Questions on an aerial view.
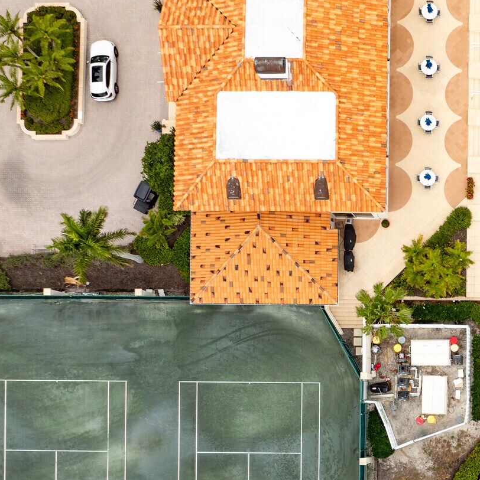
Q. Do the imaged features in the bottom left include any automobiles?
No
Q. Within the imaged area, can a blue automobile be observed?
No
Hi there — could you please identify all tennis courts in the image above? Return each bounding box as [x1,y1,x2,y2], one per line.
[151,301,362,480]
[0,300,151,480]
